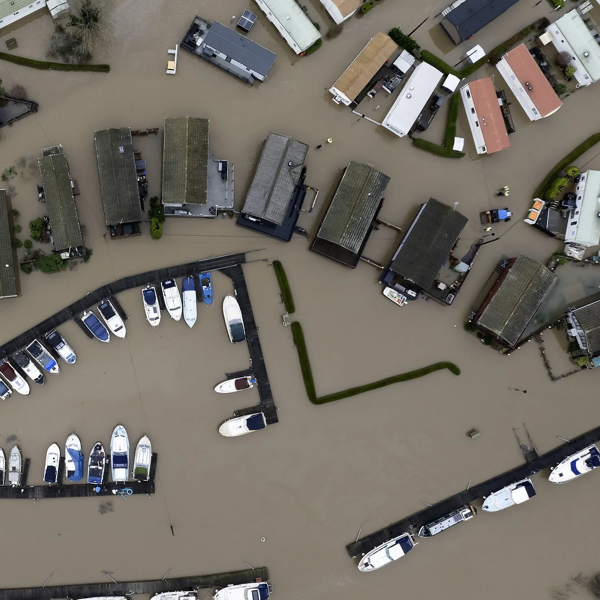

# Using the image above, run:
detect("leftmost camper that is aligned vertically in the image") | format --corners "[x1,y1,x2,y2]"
[463,77,510,156]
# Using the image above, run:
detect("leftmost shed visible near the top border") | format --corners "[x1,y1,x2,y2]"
[44,0,69,23]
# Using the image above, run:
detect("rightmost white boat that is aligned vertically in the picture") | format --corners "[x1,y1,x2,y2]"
[222,293,245,342]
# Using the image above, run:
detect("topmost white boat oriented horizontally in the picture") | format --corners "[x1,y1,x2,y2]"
[215,374,255,392]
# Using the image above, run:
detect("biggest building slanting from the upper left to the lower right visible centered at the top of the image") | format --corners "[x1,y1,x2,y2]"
[203,20,277,81]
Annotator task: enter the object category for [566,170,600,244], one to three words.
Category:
camper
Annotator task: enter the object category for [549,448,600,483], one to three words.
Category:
boat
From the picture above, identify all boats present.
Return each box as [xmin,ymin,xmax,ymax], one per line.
[27,340,59,374]
[88,443,105,484]
[219,410,269,435]
[359,530,419,570]
[111,425,129,485]
[65,433,84,485]
[181,279,196,328]
[384,287,408,306]
[98,298,125,338]
[199,273,214,305]
[82,310,109,342]
[151,590,197,600]
[215,374,255,392]
[294,227,307,235]
[211,580,274,600]
[15,350,45,384]
[481,478,535,511]
[0,448,6,485]
[143,285,160,326]
[415,505,477,537]
[162,279,183,320]
[133,435,152,484]
[45,330,74,363]
[7,446,23,488]
[549,448,600,483]
[0,359,28,394]
[0,374,13,398]
[43,443,60,486]
[222,293,245,342]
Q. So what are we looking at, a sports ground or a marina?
marina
